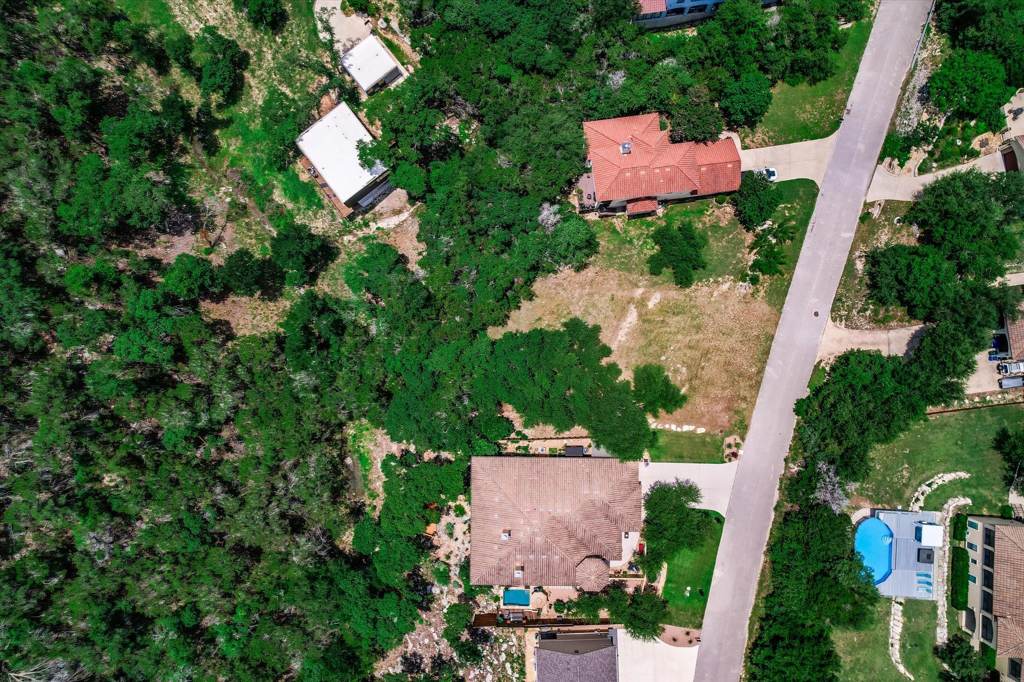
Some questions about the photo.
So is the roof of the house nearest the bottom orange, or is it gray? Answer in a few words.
gray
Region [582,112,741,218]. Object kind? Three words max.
house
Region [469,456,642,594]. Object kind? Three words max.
house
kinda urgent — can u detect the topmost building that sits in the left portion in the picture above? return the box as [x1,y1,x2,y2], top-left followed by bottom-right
[341,33,399,96]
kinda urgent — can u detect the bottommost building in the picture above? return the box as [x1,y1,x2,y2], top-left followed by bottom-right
[536,630,618,682]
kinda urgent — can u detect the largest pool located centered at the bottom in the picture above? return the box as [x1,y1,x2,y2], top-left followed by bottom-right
[498,586,535,611]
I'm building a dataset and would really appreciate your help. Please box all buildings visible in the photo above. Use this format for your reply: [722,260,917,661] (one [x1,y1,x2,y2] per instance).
[1004,300,1024,360]
[631,0,794,28]
[536,630,618,682]
[582,112,741,218]
[998,126,1024,183]
[469,456,642,594]
[565,445,582,456]
[961,518,1024,682]
[296,102,394,209]
[341,33,399,96]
